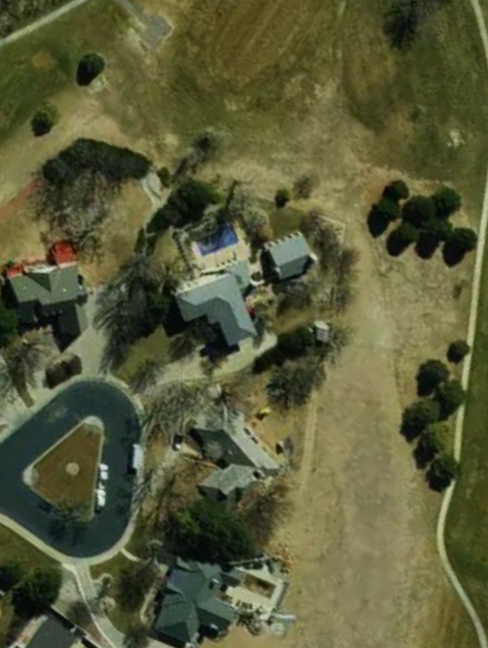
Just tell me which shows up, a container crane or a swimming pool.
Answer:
swimming pool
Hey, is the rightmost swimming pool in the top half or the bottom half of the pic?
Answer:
bottom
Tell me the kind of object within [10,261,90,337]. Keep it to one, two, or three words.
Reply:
house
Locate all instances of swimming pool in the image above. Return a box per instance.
[196,222,240,258]
[241,572,278,599]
